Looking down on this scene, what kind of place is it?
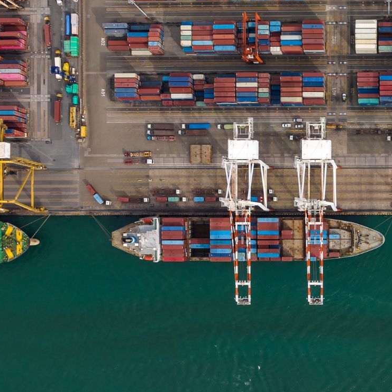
port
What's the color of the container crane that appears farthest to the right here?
white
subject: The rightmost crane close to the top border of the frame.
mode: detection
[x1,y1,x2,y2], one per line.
[241,12,265,67]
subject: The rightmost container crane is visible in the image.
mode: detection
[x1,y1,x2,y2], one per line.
[293,115,344,304]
